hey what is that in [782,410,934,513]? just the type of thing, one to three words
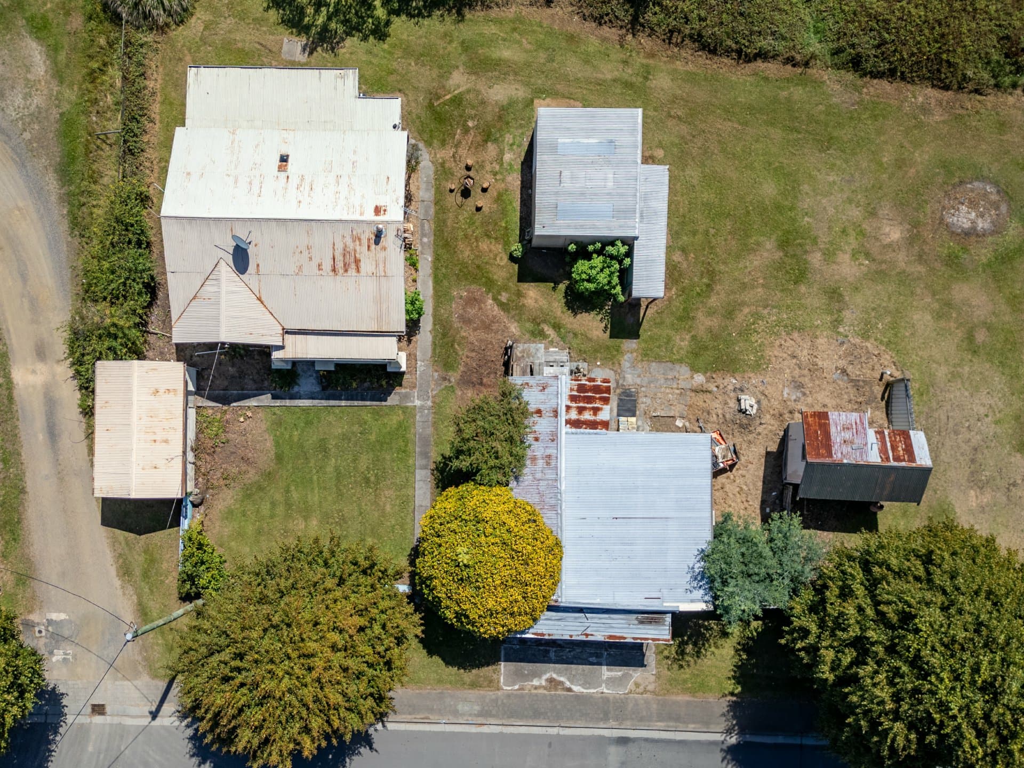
shed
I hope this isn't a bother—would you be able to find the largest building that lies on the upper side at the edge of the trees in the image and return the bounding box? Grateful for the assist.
[144,63,408,367]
